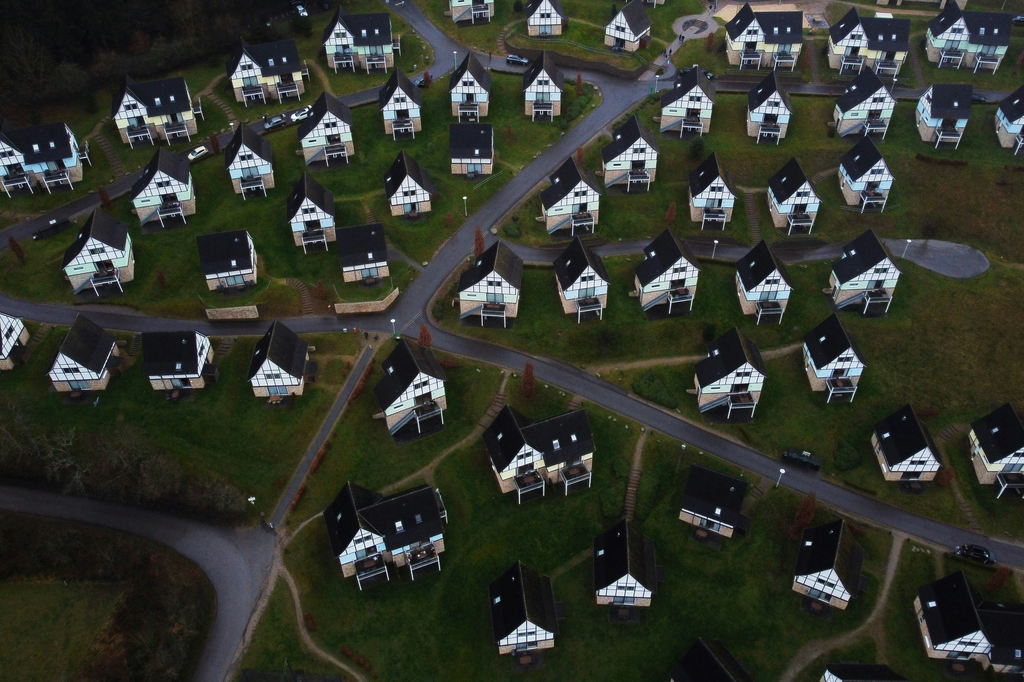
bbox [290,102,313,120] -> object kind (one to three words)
car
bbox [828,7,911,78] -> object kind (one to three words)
house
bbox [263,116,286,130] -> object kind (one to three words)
car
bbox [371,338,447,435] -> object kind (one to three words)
house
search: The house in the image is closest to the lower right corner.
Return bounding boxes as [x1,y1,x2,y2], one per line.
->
[915,573,1024,681]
